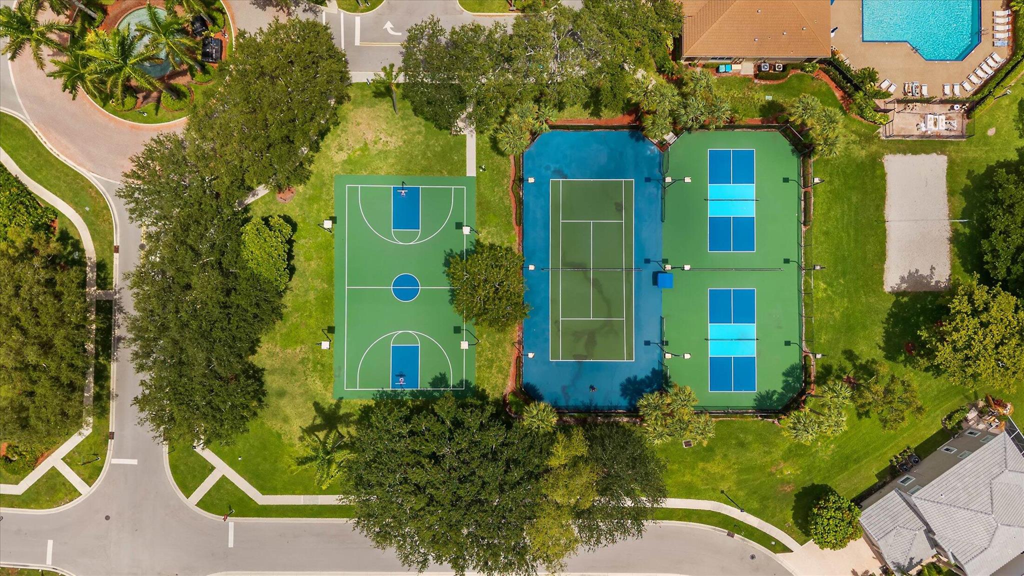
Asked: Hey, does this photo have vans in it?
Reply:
No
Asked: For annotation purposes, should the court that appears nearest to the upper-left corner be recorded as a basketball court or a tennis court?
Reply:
basketball court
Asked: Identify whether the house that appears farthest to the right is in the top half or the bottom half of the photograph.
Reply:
bottom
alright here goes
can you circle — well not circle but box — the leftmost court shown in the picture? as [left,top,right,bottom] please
[333,175,476,399]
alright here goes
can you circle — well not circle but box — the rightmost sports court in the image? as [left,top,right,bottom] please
[882,153,953,294]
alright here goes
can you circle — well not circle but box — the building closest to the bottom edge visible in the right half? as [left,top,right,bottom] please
[862,424,1024,576]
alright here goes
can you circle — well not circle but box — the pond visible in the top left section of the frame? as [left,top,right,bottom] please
[112,3,189,80]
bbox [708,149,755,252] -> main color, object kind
blue sports court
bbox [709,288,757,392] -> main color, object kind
blue sports court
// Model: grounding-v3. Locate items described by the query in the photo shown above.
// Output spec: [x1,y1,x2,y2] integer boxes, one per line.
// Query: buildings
[649,0,831,64]
[862,424,1024,576]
